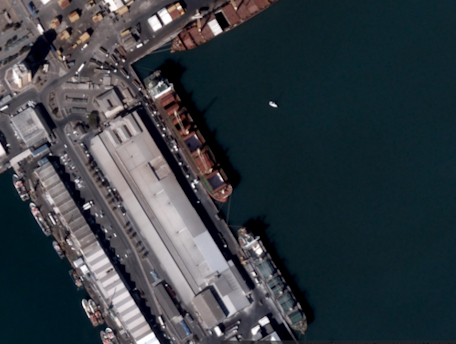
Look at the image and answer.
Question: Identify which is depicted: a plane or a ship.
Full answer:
Looking from above, you can make out a ship.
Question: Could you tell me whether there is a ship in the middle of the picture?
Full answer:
Yes, a ship shows up in the middle of the picture.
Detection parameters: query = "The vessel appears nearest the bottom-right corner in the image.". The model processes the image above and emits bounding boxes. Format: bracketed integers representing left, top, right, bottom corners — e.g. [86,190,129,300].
[236,226,306,334]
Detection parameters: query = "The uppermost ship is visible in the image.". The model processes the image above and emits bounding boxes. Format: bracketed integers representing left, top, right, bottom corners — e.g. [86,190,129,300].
[170,0,283,55]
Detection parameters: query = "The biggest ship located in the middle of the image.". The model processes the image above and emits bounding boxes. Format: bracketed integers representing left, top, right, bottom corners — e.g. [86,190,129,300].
[144,71,229,203]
